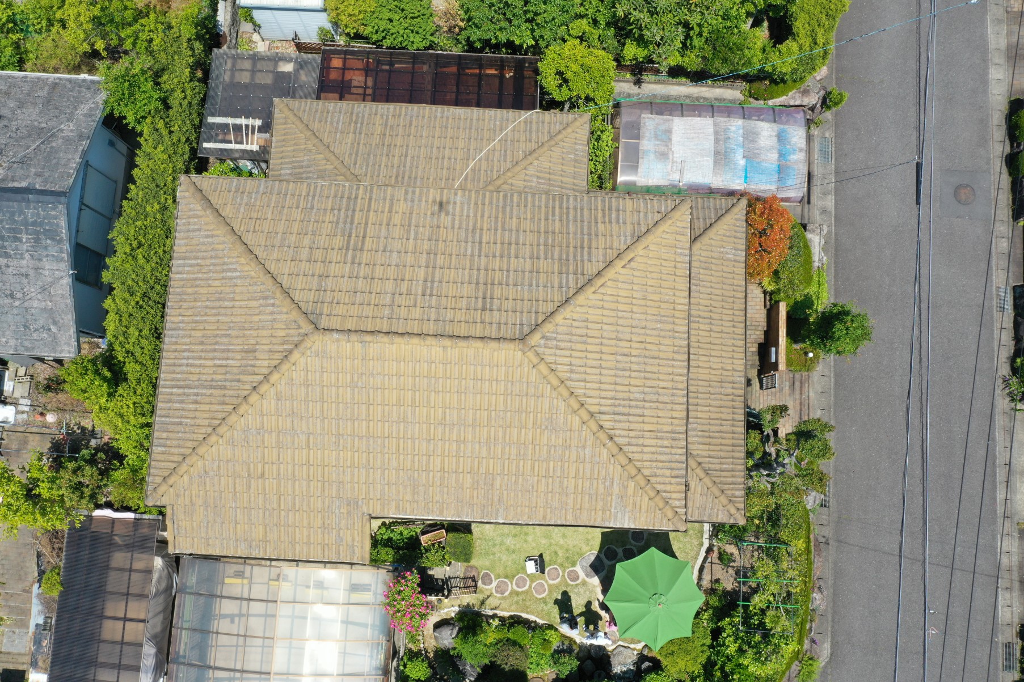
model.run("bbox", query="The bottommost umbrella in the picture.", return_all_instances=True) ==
[604,547,705,650]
